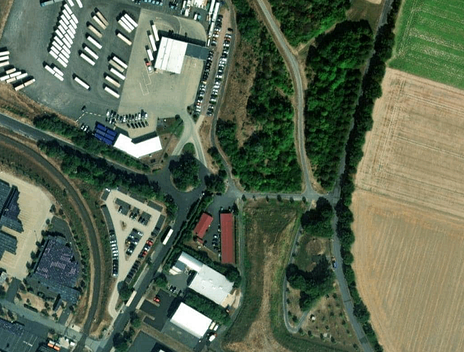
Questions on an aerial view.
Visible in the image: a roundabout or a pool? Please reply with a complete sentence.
Looking from above, you can make out a roundabout.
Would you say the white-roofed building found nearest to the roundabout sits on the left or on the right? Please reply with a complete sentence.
The white-roofed building found nearest to the roundabout is on the left side of the image.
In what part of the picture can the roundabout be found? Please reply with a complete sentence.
The roundabout is located in the center region of the scene.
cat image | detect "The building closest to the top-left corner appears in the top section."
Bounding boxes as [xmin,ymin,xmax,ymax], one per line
[154,36,188,76]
